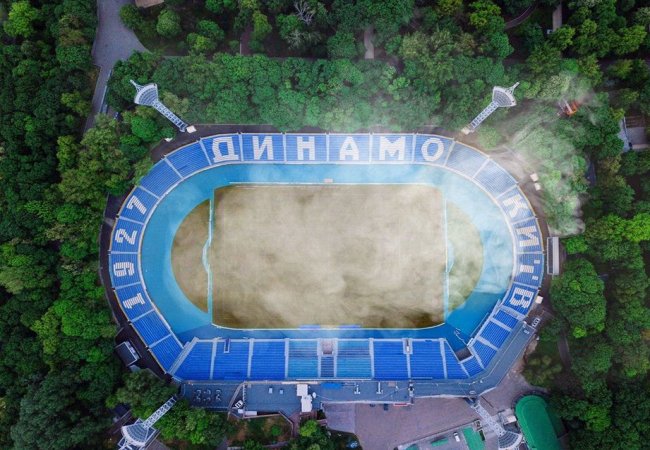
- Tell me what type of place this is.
sports ground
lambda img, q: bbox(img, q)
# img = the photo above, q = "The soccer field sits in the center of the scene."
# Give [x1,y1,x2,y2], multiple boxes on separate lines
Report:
[171,185,484,329]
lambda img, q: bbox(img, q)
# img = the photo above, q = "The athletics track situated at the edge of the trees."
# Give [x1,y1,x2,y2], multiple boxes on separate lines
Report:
[143,163,513,363]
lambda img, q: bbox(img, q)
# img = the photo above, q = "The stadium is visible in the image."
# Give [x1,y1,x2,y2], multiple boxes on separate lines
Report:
[105,129,548,435]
